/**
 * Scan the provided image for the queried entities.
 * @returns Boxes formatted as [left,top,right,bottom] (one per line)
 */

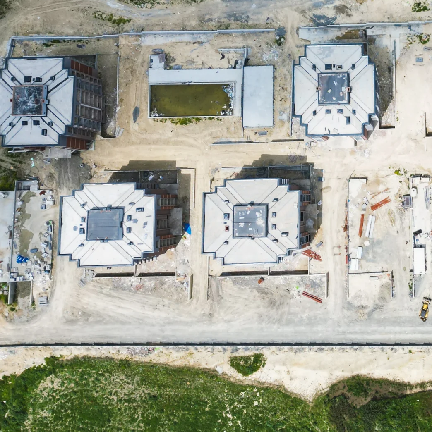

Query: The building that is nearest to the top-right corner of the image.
[291,42,381,149]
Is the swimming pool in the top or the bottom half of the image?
top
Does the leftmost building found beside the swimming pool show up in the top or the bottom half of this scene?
top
